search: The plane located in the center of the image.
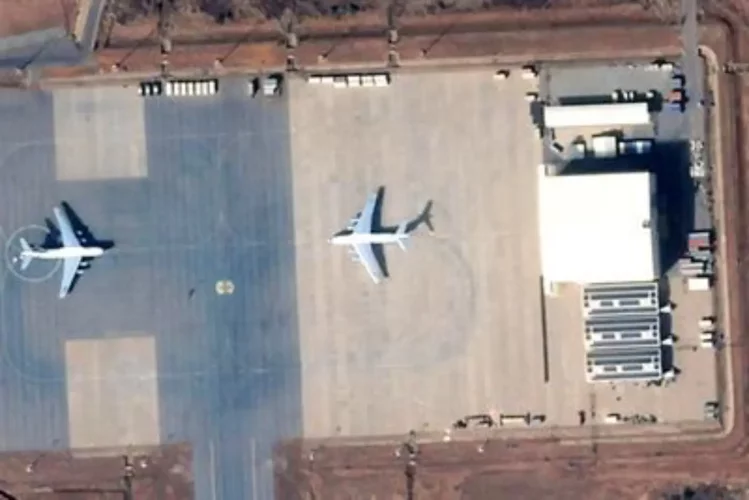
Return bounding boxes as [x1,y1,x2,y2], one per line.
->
[330,192,411,284]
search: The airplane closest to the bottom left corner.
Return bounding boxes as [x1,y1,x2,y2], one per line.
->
[19,207,105,298]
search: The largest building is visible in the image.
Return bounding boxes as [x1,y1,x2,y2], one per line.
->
[541,164,671,293]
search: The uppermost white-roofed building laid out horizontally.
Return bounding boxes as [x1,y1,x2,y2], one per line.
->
[545,103,650,127]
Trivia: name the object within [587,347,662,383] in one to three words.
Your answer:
building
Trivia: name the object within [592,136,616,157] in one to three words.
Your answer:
building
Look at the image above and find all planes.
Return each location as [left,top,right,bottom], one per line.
[19,207,105,298]
[330,192,411,284]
